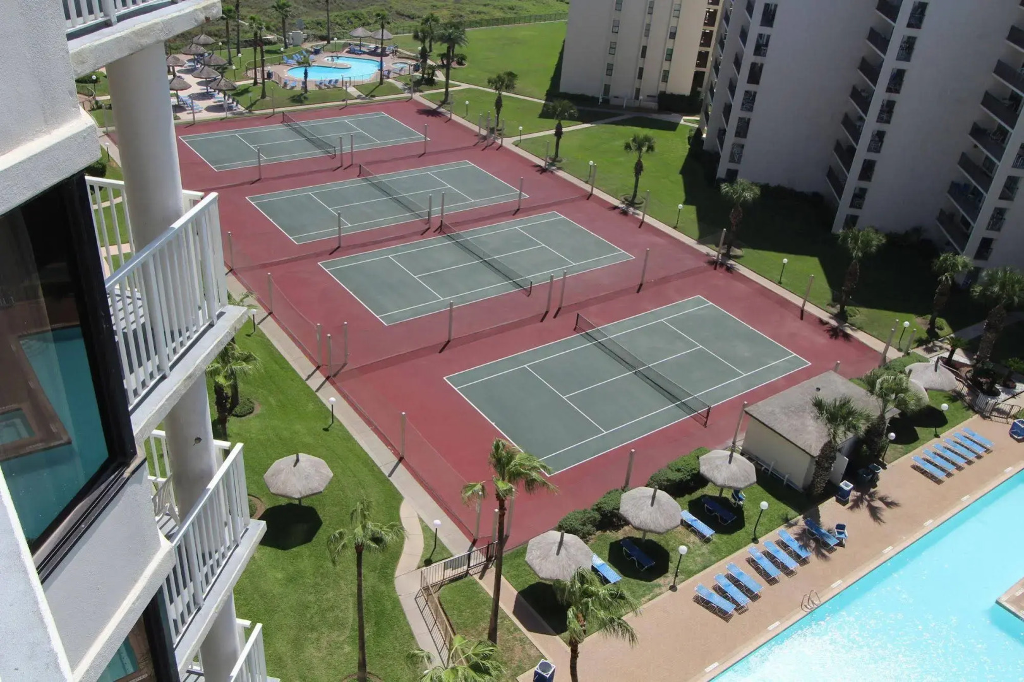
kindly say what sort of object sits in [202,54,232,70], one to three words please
umbrella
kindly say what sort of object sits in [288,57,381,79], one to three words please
swimming pool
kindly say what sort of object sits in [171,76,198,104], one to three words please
umbrella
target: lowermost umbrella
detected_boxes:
[522,528,598,588]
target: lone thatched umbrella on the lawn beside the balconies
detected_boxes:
[261,454,331,509]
